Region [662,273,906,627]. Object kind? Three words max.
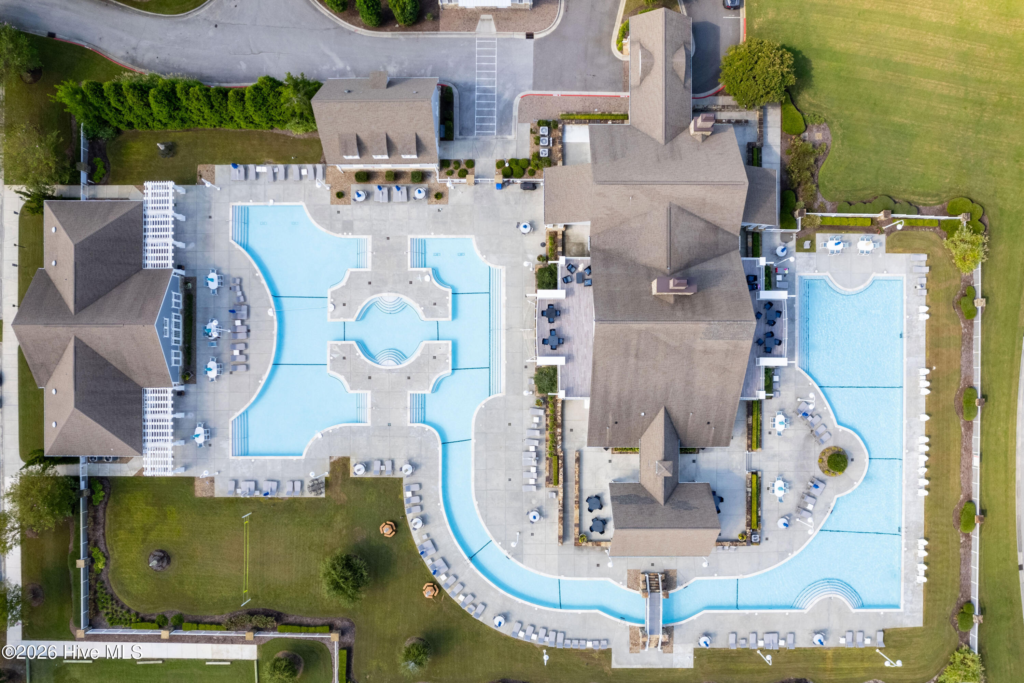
swimming pool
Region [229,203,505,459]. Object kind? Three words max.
swimming pool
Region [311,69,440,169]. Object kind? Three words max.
building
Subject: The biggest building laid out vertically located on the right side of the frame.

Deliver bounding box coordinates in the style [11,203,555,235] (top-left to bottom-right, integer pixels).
[543,8,778,557]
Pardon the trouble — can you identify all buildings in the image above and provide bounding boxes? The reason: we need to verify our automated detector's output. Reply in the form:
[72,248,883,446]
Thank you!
[13,200,186,457]
[436,0,535,18]
[543,8,778,557]
[311,69,440,169]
